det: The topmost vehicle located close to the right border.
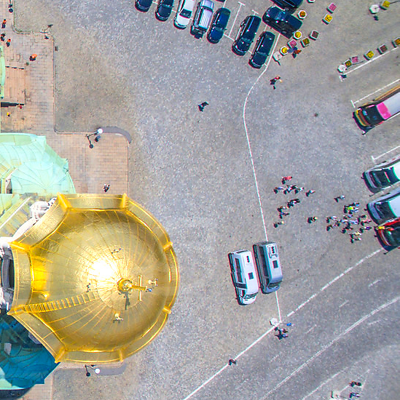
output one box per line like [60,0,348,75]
[359,94,400,133]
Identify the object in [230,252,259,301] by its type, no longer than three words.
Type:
vehicle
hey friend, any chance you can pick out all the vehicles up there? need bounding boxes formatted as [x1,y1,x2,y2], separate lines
[155,0,174,20]
[207,9,229,43]
[359,94,400,133]
[230,252,259,301]
[249,32,275,67]
[381,225,400,254]
[263,7,301,35]
[255,243,284,291]
[274,0,302,11]
[233,17,260,53]
[134,0,153,11]
[191,0,213,36]
[368,162,400,196]
[173,0,194,28]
